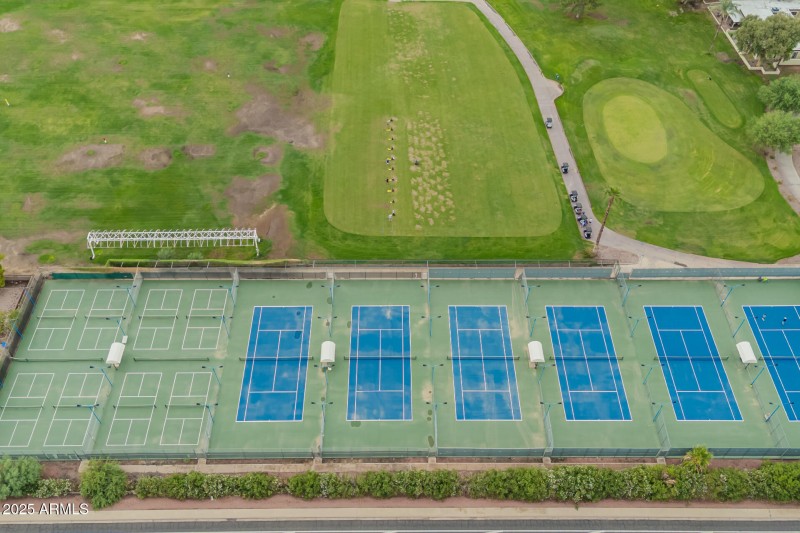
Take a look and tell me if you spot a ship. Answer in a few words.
No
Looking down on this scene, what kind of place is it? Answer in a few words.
golf course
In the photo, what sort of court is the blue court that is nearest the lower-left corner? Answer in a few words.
tennis court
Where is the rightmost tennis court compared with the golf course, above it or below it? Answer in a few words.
below it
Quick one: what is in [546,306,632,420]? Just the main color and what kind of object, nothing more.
blue tennis court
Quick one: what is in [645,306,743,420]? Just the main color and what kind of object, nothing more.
blue tennis court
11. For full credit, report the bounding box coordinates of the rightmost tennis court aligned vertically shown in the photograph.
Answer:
[743,306,800,420]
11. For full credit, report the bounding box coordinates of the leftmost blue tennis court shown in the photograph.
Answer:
[236,306,314,420]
